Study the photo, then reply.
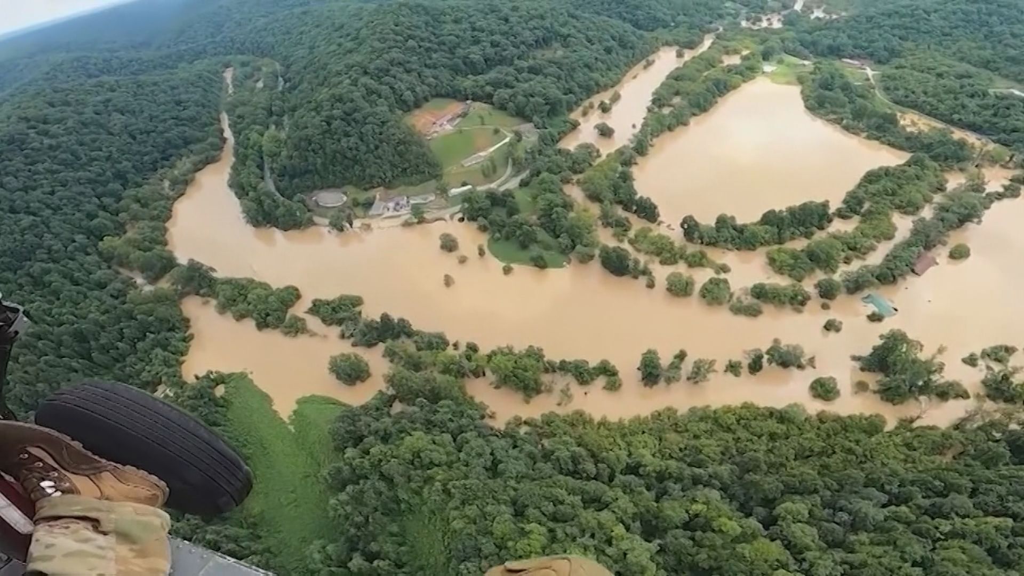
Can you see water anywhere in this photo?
Yes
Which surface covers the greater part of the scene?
trees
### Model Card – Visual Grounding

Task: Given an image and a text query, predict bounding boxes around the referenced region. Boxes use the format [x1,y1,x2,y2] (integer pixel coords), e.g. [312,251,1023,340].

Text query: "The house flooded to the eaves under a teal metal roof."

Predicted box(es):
[863,295,900,317]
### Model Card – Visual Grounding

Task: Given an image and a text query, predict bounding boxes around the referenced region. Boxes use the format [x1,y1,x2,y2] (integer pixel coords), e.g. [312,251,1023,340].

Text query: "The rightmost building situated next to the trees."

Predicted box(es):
[908,255,942,277]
